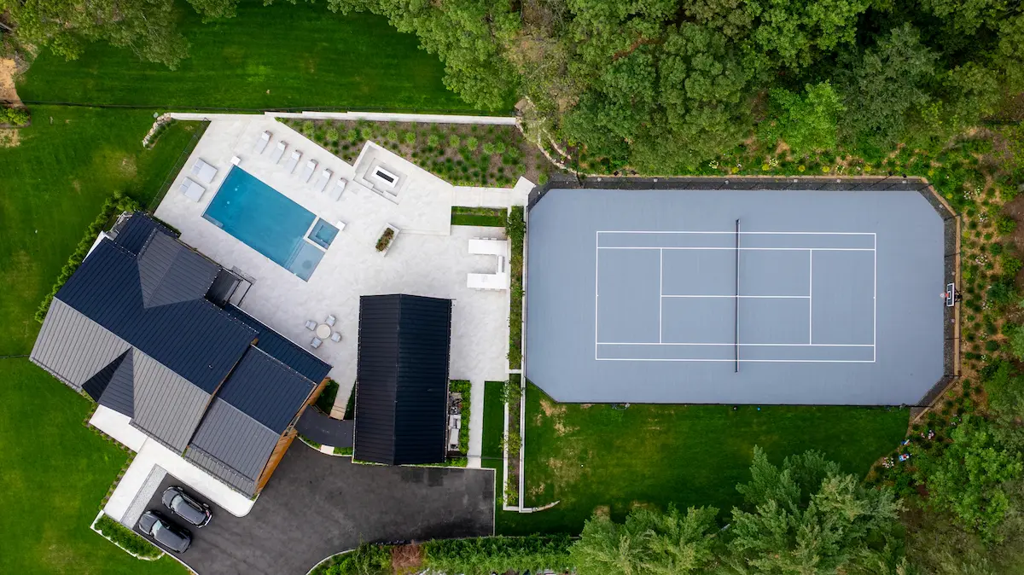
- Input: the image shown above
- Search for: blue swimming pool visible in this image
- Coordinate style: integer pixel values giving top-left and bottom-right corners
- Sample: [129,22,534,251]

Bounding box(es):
[199,164,341,285]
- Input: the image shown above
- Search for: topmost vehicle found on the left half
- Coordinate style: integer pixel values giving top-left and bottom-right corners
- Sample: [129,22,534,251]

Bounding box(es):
[161,485,218,530]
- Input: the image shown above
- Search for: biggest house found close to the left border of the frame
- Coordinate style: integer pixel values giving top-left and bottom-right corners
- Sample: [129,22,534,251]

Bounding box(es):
[29,211,335,501]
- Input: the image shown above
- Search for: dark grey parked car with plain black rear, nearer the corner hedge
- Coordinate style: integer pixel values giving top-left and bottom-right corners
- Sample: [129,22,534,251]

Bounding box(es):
[139,510,196,556]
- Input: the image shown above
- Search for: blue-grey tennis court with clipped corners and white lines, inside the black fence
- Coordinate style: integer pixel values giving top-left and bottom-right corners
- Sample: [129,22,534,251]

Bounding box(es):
[527,189,945,405]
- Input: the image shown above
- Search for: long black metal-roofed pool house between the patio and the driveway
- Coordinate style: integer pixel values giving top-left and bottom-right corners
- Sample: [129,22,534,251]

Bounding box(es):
[352,292,452,465]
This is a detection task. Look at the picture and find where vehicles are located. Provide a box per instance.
[161,485,218,530]
[139,510,196,556]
